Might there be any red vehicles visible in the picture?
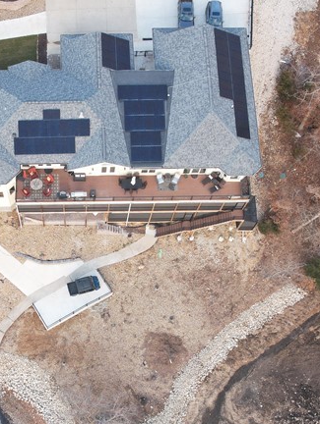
No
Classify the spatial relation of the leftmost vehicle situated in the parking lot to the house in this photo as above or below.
below it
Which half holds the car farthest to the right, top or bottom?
top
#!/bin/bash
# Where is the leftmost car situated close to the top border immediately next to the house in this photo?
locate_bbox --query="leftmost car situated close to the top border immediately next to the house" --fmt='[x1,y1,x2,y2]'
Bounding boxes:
[177,0,197,28]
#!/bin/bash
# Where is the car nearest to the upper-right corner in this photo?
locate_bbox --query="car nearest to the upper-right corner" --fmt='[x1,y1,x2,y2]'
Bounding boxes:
[205,0,227,28]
